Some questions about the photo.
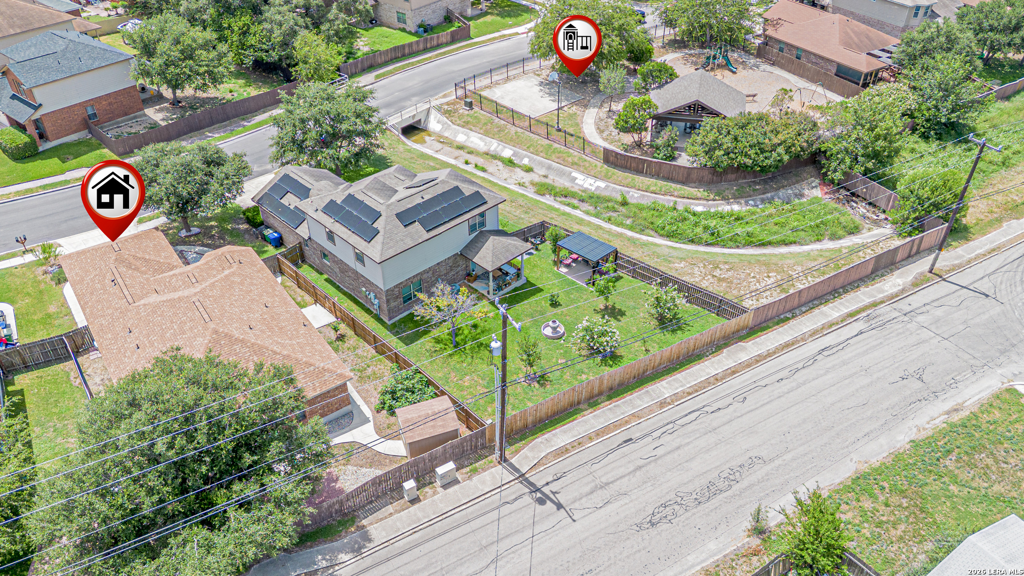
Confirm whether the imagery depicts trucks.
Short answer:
No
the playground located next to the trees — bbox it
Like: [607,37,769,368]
[667,52,839,126]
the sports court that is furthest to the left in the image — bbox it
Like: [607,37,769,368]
[480,73,585,118]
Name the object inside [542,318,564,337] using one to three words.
fountain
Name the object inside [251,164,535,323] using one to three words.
house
